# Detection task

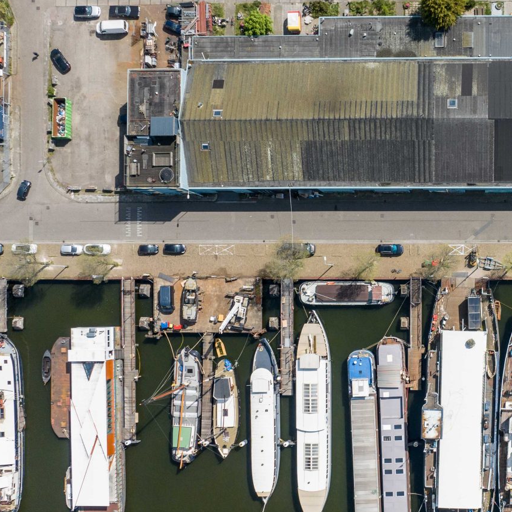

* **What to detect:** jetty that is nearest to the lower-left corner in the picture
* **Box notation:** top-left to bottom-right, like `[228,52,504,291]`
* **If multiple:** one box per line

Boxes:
[51,337,72,439]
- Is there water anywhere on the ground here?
Yes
